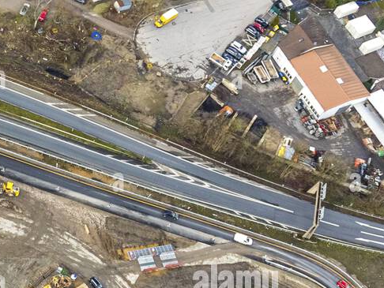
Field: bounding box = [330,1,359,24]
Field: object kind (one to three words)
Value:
tent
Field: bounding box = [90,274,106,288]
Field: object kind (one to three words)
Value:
car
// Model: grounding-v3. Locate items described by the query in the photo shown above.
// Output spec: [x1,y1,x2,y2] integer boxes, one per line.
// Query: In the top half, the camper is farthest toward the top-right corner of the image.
[282,0,298,15]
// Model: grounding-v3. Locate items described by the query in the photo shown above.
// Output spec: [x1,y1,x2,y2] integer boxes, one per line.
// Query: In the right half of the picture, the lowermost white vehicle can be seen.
[234,228,256,245]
